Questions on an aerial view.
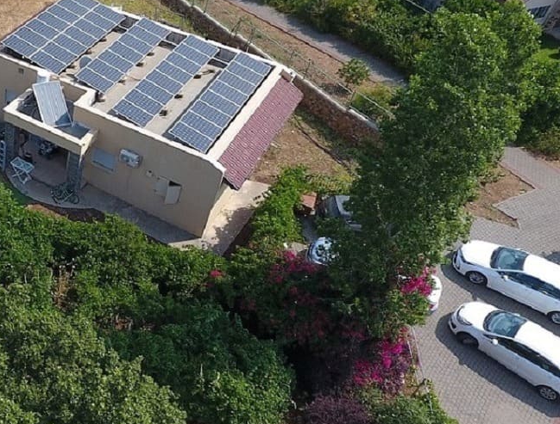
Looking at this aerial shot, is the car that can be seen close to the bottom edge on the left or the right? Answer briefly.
right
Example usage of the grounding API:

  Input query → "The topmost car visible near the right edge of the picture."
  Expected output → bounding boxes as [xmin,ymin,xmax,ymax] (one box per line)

[455,240,560,325]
